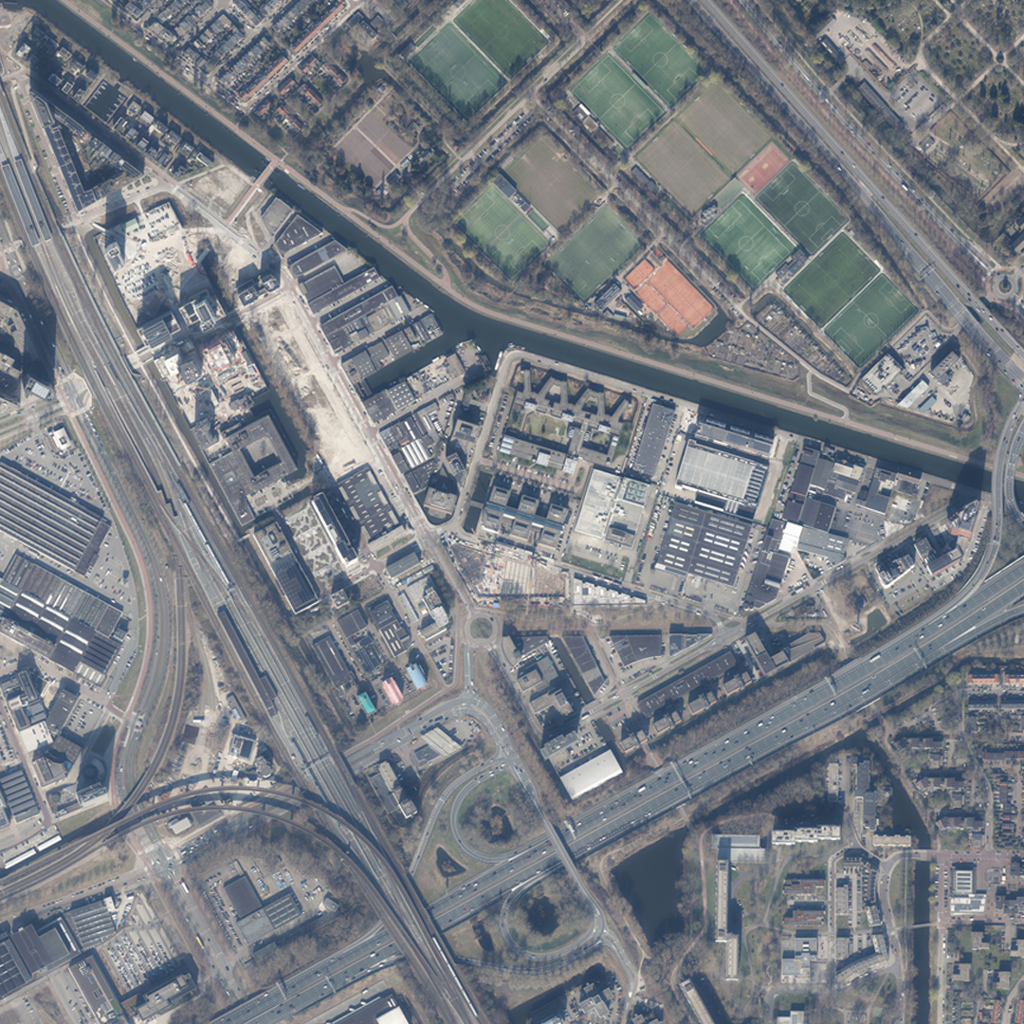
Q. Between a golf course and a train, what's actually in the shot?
train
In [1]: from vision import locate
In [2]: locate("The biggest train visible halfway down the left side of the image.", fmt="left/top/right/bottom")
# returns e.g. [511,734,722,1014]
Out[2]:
[185,507,232,585]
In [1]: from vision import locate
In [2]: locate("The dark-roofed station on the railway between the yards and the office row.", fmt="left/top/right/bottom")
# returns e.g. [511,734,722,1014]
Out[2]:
[212,599,294,760]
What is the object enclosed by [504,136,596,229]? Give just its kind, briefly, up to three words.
soccer field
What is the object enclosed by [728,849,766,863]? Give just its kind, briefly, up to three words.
building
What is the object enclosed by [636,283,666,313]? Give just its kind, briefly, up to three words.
tennis court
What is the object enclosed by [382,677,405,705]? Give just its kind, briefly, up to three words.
house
